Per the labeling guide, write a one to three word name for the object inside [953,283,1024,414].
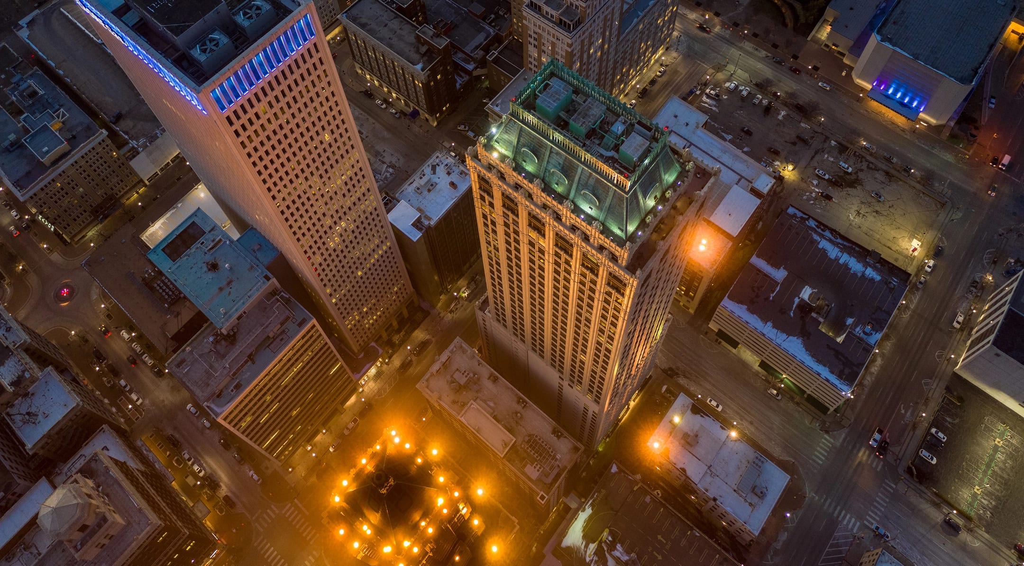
building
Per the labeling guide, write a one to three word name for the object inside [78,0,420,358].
building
